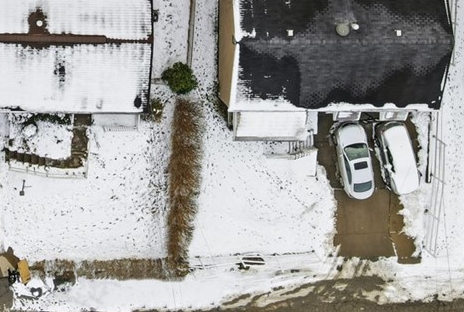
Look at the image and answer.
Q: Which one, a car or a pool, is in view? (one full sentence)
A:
It is a car that can be seen here.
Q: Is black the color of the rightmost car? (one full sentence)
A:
No, from above the rightmost car looks white.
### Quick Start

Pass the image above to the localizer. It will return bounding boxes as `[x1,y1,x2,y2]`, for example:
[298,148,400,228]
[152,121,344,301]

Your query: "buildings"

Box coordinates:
[220,0,458,161]
[0,0,156,131]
